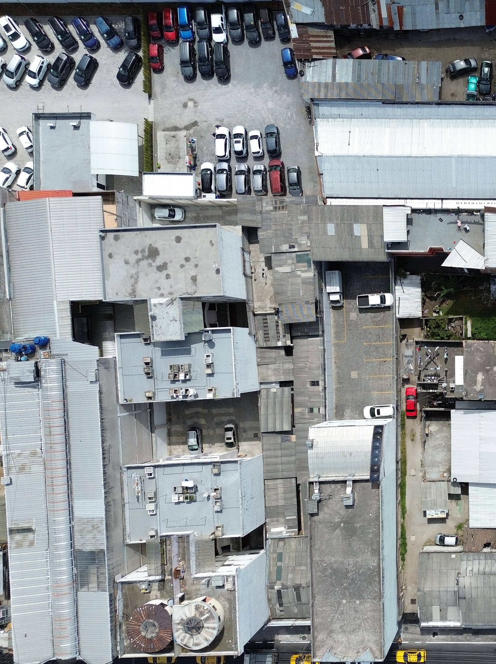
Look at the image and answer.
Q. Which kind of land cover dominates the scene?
buildings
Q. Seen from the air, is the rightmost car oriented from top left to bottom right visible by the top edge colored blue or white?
blue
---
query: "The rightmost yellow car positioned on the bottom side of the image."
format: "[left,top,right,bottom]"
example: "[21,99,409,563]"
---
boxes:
[397,649,426,664]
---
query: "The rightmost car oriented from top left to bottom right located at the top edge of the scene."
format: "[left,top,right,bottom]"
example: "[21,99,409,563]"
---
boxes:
[94,14,122,50]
